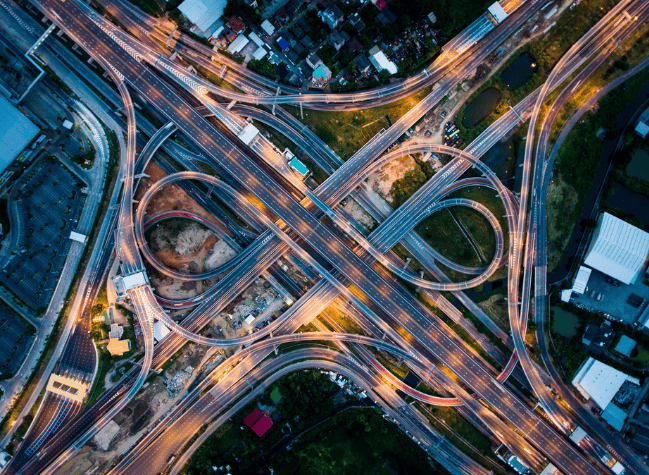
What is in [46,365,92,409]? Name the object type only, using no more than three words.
toll station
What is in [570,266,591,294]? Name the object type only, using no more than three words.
shed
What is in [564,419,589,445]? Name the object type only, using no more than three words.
toll station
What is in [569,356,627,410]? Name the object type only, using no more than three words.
building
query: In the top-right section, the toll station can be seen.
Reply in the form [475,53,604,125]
[480,0,511,29]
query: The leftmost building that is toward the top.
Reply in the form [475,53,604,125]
[0,82,51,178]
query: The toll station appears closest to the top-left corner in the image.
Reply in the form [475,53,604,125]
[235,120,266,150]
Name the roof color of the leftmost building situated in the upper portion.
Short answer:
blue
